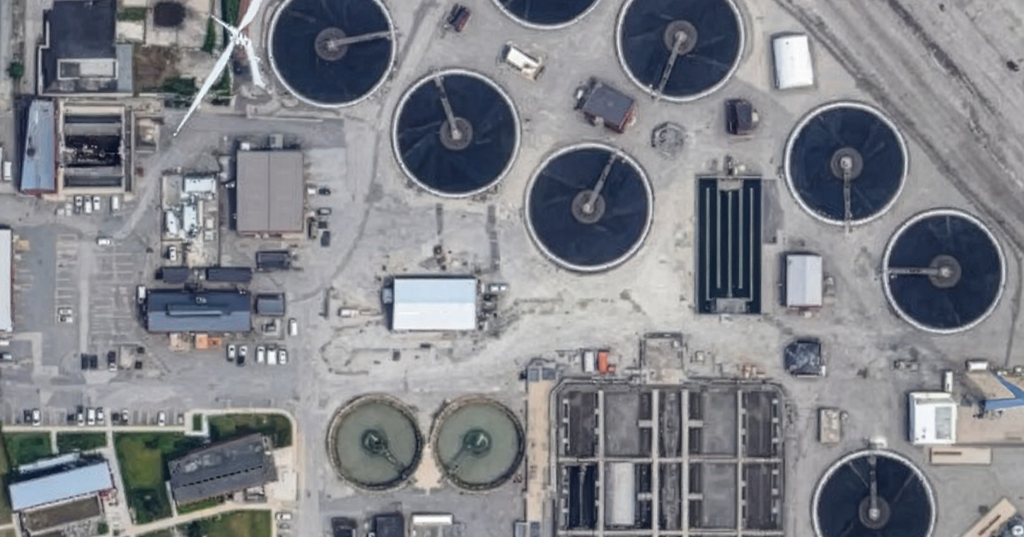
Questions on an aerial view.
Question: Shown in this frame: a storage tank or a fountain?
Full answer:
Looking from above, you can make out a storage tank.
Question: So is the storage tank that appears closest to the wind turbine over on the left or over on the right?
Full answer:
The storage tank that appears closest to the wind turbine appears in the left half of the scene.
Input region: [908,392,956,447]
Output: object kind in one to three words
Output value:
building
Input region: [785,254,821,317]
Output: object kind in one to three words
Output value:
house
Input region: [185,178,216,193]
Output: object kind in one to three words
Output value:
building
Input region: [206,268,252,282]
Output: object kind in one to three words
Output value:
shed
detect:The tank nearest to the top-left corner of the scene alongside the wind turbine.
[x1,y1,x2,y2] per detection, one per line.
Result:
[266,0,398,108]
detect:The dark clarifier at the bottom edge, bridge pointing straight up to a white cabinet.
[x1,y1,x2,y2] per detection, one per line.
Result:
[809,445,939,537]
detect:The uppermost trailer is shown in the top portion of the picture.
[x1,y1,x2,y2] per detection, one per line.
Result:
[504,45,544,81]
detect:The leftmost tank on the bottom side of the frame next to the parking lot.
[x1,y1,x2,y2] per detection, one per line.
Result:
[326,393,424,490]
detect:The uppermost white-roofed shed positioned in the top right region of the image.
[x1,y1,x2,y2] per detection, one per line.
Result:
[773,34,813,90]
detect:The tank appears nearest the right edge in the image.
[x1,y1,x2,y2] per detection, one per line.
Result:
[880,208,1007,334]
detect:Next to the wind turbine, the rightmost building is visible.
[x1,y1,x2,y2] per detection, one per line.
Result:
[236,135,304,239]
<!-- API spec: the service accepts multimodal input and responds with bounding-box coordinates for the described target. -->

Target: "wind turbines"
[164,0,269,137]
